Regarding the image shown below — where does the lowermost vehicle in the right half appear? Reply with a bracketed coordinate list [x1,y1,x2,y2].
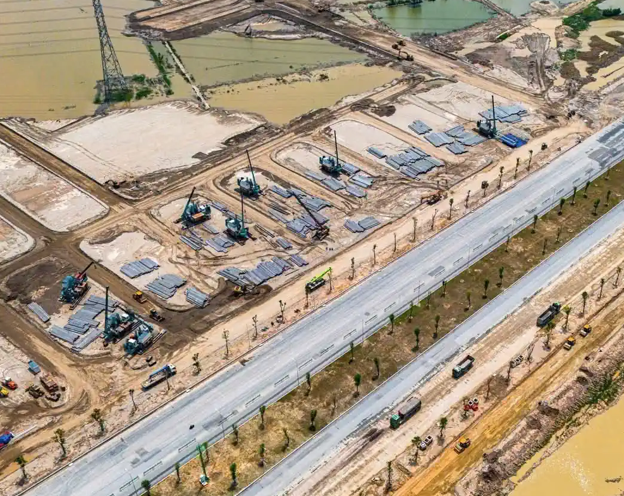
[453,434,471,453]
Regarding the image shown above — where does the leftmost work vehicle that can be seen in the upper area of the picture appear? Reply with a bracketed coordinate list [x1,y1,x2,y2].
[103,171,121,188]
